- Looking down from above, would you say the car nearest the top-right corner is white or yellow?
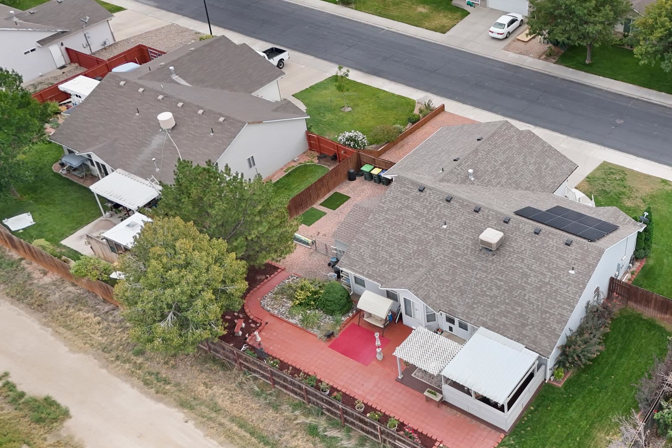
white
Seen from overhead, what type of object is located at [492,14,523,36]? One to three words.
car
